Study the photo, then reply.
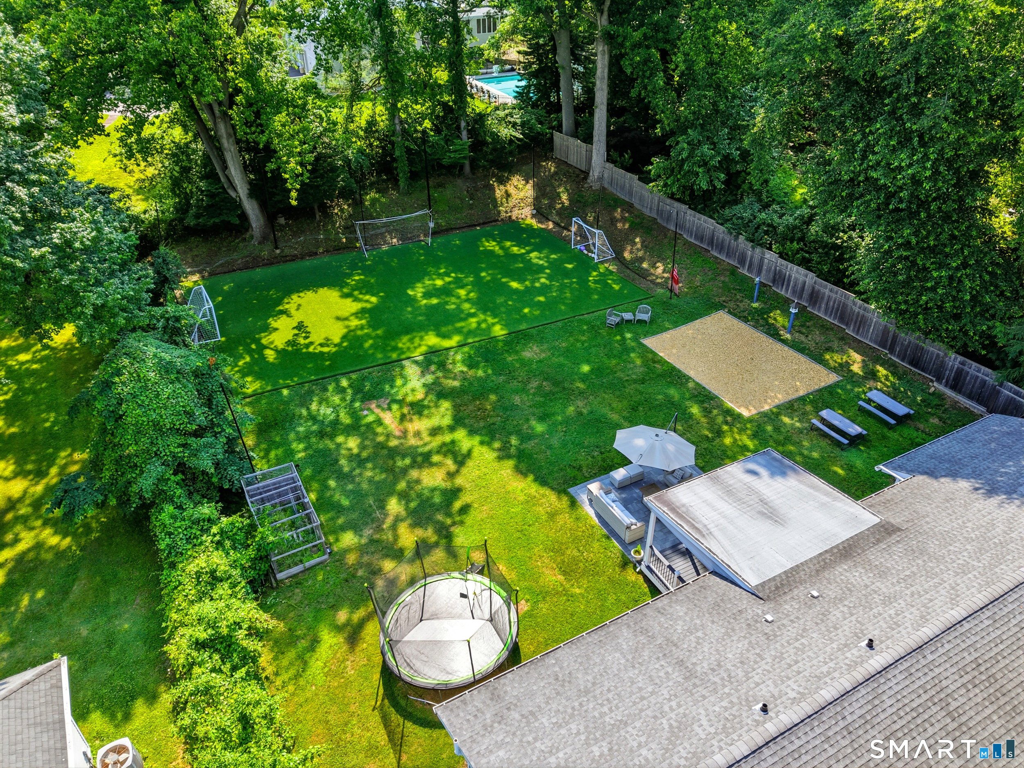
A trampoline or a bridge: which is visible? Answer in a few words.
trampoline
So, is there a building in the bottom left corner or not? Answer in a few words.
Yes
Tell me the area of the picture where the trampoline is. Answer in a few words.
bottom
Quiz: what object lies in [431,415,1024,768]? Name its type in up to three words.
house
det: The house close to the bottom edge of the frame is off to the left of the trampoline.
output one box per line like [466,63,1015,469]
[0,646,101,768]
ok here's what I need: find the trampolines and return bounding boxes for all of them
[367,539,522,701]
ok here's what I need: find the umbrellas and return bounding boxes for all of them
[612,411,697,474]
